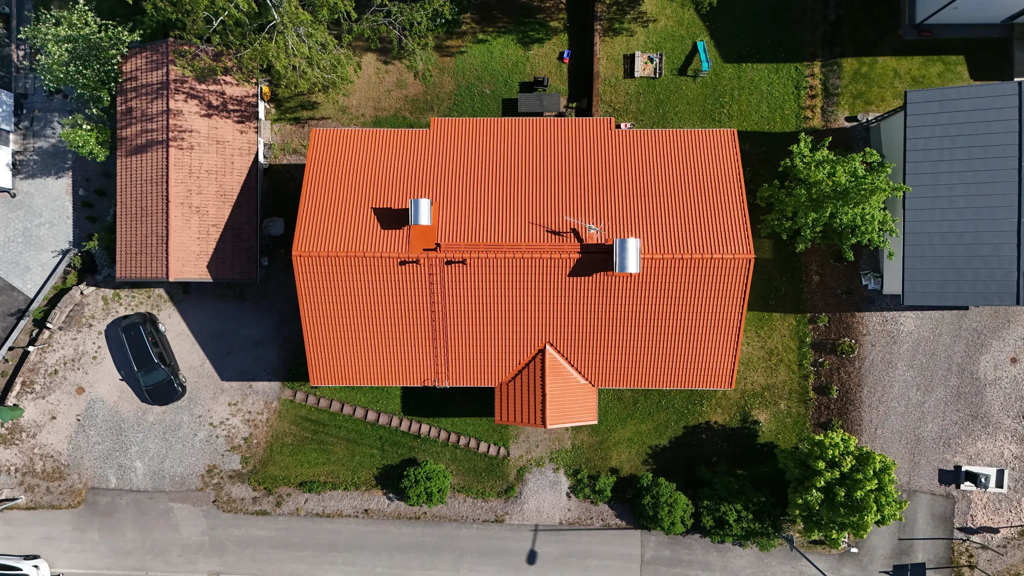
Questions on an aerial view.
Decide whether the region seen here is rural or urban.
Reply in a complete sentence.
This place is urban.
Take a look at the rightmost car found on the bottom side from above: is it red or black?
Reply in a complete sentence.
The rightmost car found on the bottom side is black.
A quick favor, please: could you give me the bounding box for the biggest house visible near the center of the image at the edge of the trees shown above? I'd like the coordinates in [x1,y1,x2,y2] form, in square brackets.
[290,113,758,429]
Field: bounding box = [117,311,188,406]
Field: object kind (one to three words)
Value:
car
